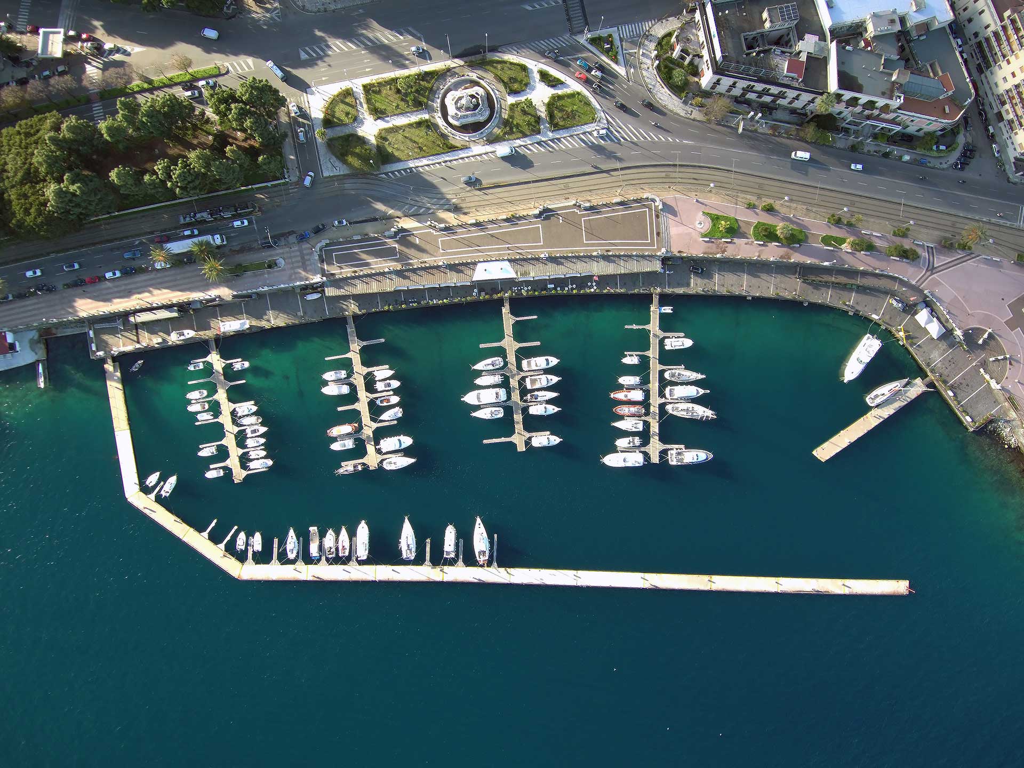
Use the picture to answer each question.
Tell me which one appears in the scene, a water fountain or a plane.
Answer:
water fountain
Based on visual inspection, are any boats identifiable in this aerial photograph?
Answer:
Yes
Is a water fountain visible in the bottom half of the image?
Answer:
No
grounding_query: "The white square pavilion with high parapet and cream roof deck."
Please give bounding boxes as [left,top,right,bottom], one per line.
[37,28,73,64]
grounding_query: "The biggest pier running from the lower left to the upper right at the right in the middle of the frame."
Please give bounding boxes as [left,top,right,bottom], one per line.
[811,378,930,462]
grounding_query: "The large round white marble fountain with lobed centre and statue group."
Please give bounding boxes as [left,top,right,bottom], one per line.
[432,70,503,142]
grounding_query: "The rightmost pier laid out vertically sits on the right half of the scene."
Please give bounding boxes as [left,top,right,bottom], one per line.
[616,293,692,463]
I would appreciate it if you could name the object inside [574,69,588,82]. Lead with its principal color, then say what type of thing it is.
red vehicle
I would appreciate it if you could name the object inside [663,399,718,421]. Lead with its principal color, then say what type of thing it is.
white boat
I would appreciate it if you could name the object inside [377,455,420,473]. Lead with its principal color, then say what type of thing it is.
white boat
